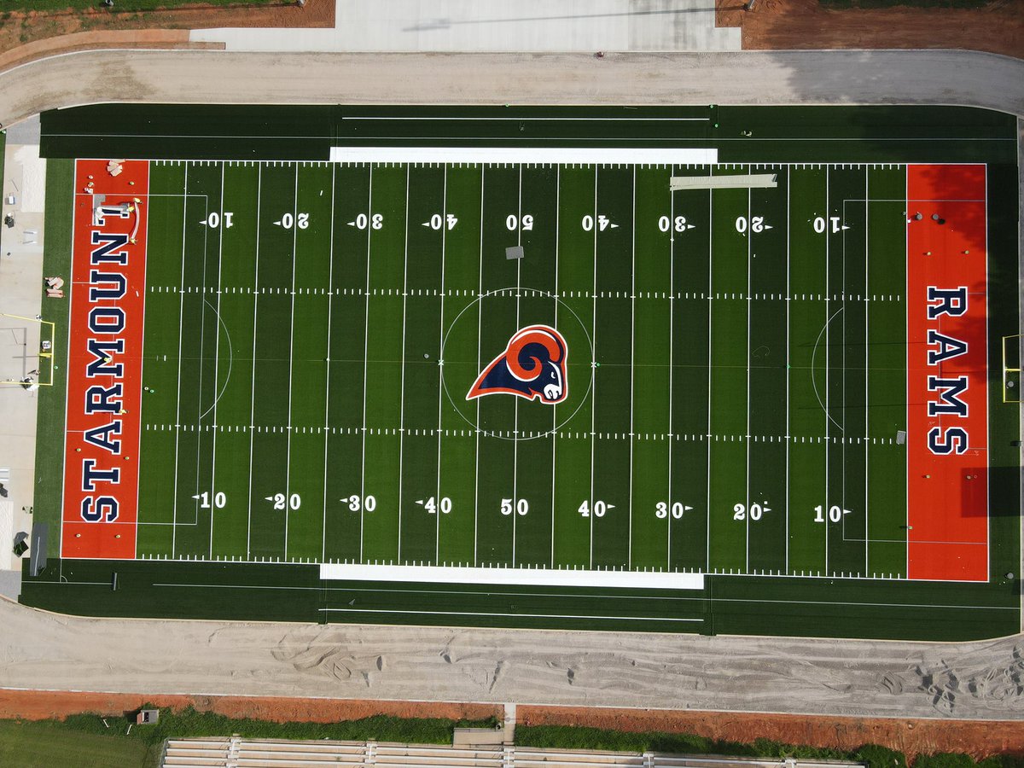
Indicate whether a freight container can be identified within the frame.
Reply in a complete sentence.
No, no freight container can be seen from above.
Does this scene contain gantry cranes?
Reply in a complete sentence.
No, no gantry crane can be seen from above.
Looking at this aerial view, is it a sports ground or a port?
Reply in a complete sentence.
This looks like a sports ground.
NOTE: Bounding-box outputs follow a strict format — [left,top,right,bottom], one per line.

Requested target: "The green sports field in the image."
[20,104,1020,641]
